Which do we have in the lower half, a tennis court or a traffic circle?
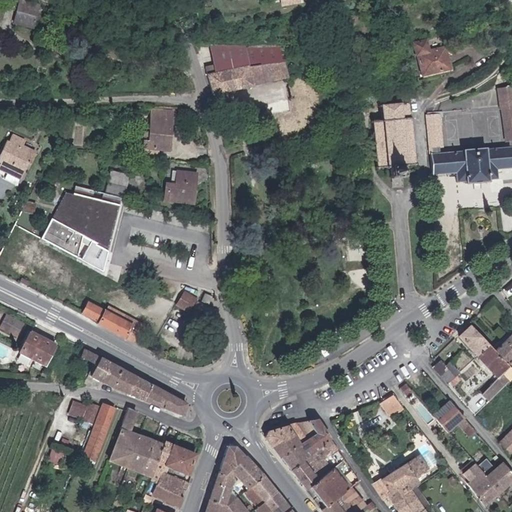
traffic circle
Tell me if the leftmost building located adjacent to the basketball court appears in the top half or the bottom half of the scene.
top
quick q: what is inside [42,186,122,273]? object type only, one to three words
building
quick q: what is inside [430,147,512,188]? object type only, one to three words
building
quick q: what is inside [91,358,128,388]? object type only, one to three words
house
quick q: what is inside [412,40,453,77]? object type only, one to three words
house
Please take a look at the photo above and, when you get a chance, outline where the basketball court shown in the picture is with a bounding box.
[442,107,504,150]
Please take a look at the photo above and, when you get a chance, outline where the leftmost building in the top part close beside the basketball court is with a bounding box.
[371,103,417,193]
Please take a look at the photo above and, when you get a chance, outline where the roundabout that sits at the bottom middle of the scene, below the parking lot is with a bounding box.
[201,373,257,429]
